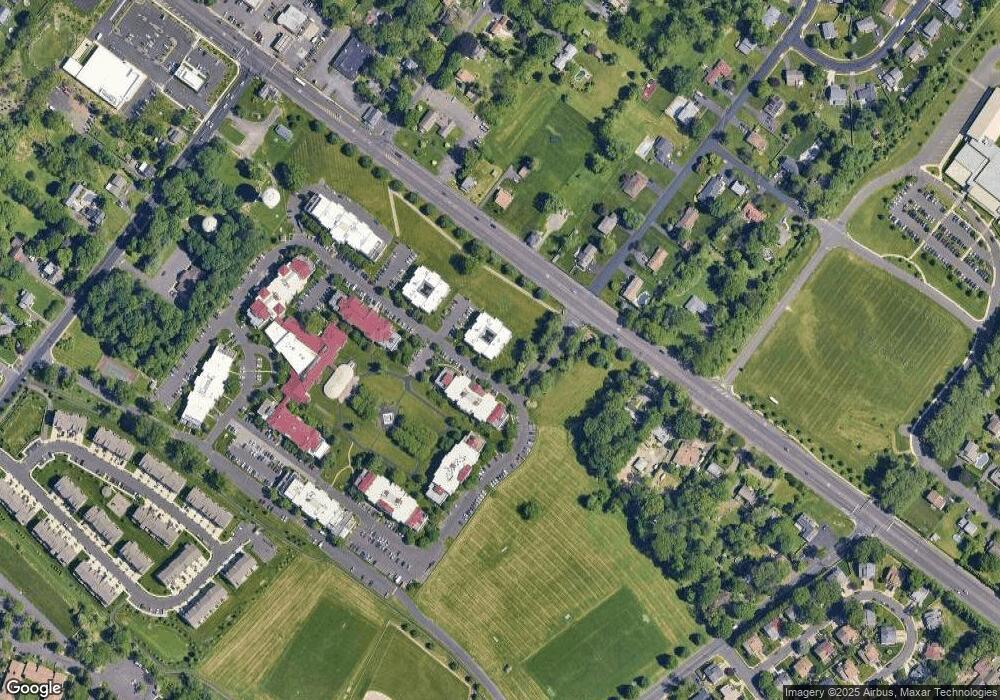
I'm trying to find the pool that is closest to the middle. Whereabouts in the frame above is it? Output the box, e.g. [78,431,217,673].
[636,291,651,308]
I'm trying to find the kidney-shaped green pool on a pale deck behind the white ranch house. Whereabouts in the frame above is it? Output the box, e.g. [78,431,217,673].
[571,67,592,86]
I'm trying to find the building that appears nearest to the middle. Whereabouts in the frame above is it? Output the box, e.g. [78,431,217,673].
[462,311,516,362]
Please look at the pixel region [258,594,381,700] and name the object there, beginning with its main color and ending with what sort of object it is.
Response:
green soccer field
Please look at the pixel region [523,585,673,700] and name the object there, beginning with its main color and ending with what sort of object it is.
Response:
green soccer field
